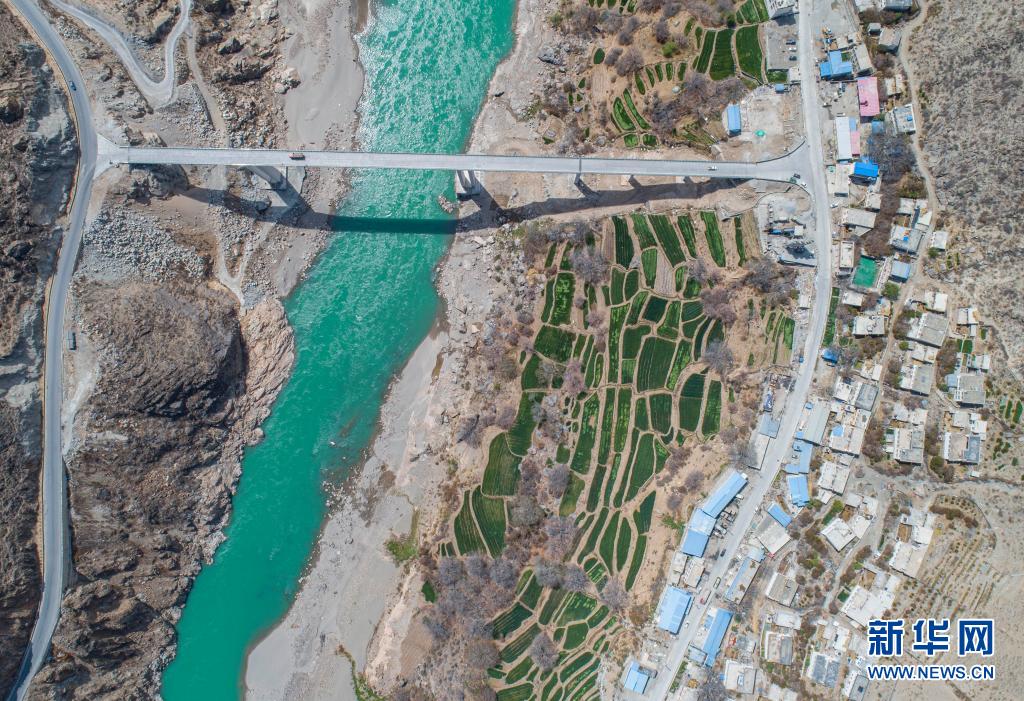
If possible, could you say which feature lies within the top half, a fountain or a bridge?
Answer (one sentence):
Visible within the top half is a bridge.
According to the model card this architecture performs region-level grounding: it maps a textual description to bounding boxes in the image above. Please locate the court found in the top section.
[850,255,878,288]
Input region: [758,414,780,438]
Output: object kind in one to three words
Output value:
shed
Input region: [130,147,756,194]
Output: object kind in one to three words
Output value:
bridge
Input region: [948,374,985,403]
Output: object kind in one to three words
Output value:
house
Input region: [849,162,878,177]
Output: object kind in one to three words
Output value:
building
